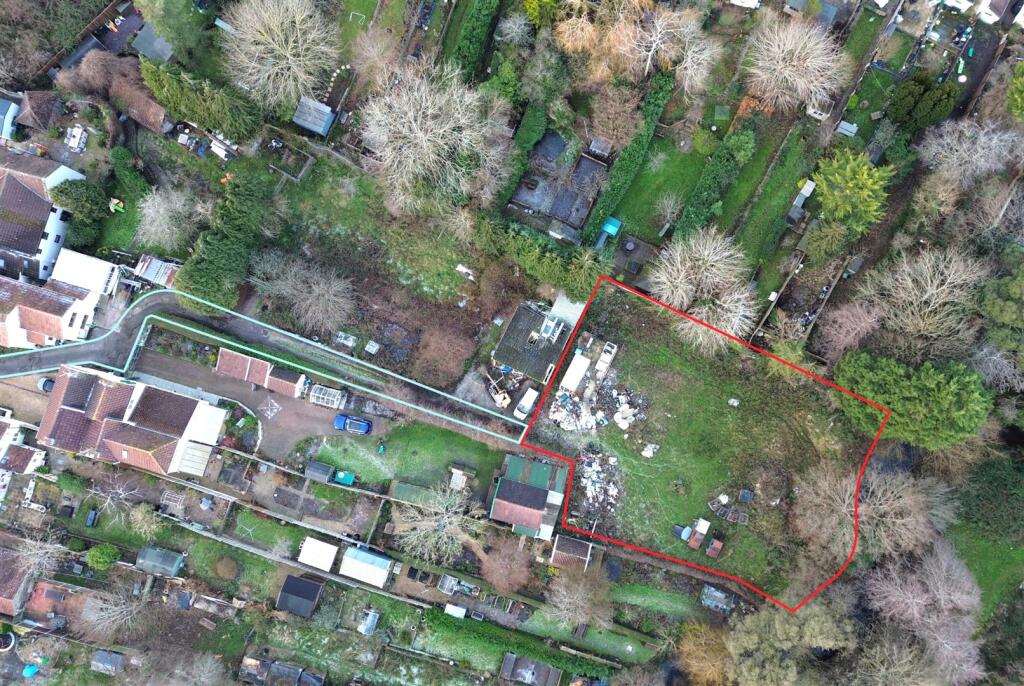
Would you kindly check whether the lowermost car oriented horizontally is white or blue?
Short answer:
blue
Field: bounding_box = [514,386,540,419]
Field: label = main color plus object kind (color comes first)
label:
white vehicle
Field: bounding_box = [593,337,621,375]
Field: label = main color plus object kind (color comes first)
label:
white truck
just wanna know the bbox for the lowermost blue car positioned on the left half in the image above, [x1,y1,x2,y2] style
[334,413,372,434]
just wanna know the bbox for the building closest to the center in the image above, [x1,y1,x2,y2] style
[493,303,573,385]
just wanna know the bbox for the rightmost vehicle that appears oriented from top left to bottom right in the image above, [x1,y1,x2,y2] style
[484,377,514,416]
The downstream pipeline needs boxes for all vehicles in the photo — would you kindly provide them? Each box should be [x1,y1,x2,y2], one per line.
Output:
[593,337,621,375]
[556,345,592,395]
[484,377,514,416]
[334,413,372,434]
[514,386,540,419]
